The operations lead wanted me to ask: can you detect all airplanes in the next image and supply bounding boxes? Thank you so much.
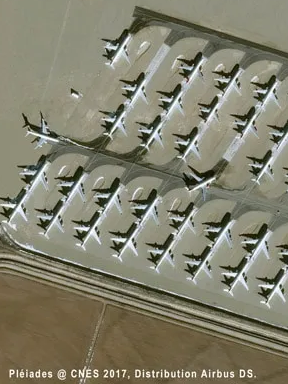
[102,110,128,139]
[112,228,139,259]
[207,223,233,253]
[200,102,220,125]
[254,82,280,110]
[218,70,244,98]
[59,176,86,206]
[233,113,259,141]
[105,38,131,66]
[181,57,206,86]
[139,120,165,149]
[185,174,215,200]
[249,157,275,186]
[25,120,59,149]
[122,78,148,107]
[244,234,270,264]
[187,249,213,281]
[171,209,196,238]
[1,195,27,225]
[175,133,201,161]
[75,217,102,249]
[270,132,288,153]
[260,273,287,305]
[149,239,176,271]
[159,90,185,118]
[96,187,122,218]
[132,198,159,230]
[22,164,49,195]
[38,205,64,236]
[223,261,250,292]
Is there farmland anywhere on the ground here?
Yes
